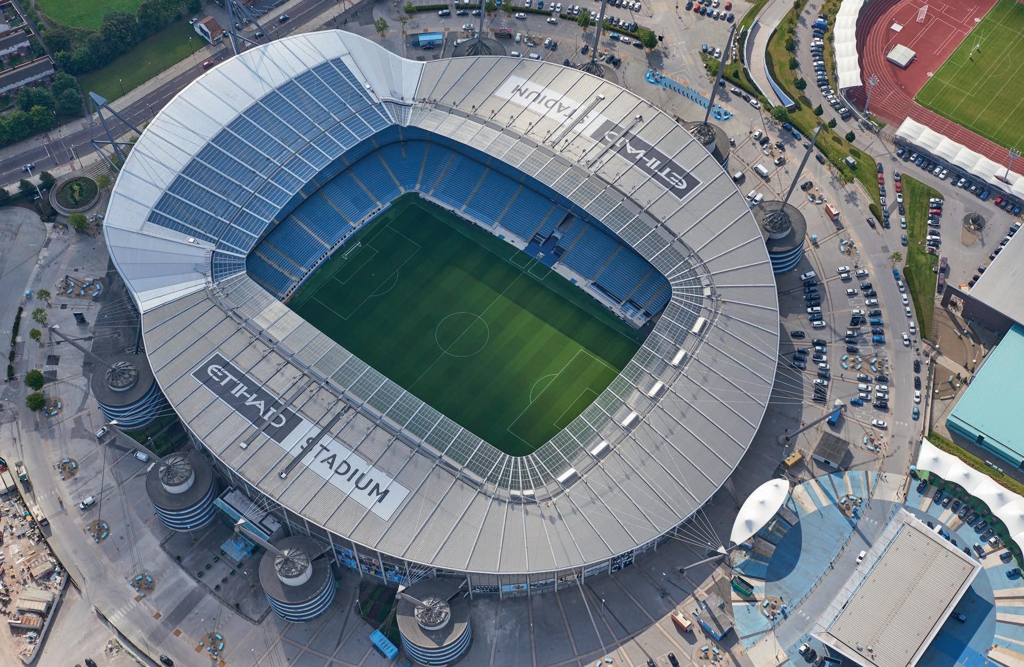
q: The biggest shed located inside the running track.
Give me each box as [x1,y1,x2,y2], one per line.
[885,45,917,67]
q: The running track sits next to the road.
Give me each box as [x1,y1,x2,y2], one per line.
[834,0,1024,176]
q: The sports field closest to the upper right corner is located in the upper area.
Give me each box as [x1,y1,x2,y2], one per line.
[913,0,1024,156]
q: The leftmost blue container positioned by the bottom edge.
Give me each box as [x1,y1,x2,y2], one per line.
[369,631,399,662]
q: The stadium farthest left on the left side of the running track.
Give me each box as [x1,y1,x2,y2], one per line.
[102,30,778,599]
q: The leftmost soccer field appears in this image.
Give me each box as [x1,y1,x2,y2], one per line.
[282,195,649,490]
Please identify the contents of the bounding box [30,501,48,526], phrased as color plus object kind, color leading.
white vehicle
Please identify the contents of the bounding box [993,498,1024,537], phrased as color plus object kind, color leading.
white tent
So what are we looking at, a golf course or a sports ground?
sports ground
